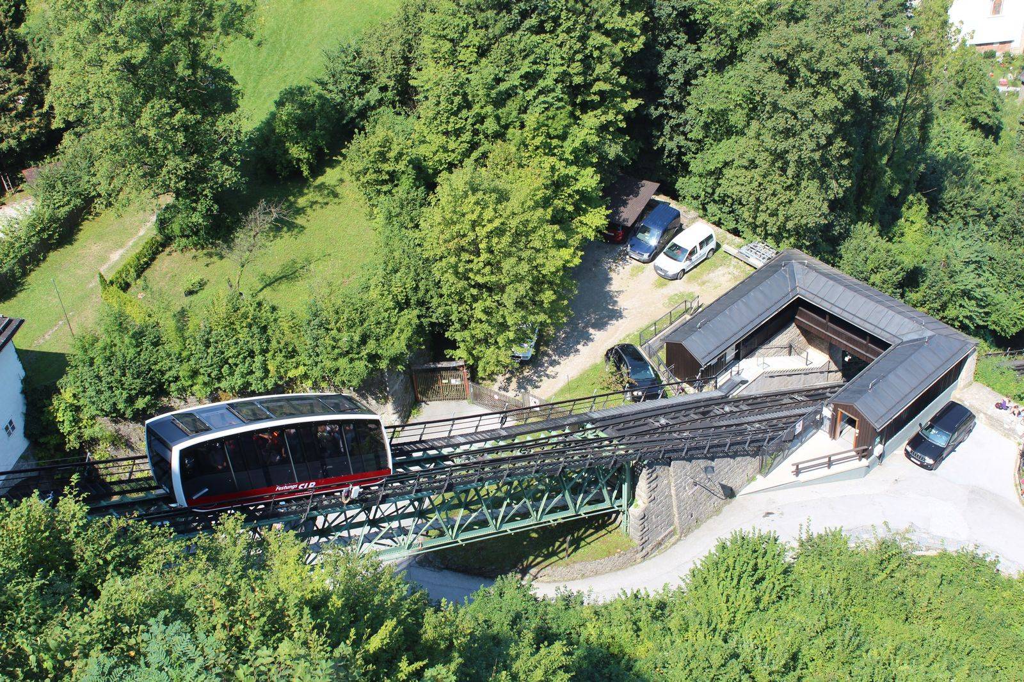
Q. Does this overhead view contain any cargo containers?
No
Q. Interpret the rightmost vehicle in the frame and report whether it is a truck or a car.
car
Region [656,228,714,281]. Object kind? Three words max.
van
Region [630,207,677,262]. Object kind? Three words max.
van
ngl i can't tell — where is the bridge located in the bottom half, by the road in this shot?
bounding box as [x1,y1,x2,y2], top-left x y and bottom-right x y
[0,373,850,572]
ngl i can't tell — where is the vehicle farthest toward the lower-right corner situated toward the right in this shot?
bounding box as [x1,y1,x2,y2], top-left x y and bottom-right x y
[907,399,978,468]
